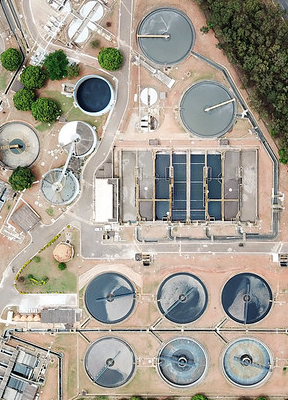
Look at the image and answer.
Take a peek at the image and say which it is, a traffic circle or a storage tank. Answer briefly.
storage tank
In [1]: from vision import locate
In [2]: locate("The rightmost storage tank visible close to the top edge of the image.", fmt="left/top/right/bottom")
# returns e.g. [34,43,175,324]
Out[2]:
[135,6,196,66]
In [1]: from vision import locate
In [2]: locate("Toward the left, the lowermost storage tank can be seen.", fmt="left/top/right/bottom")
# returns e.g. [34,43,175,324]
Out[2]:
[84,335,137,389]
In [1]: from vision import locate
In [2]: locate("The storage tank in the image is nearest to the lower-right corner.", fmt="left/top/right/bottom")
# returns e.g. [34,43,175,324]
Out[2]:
[220,334,273,388]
